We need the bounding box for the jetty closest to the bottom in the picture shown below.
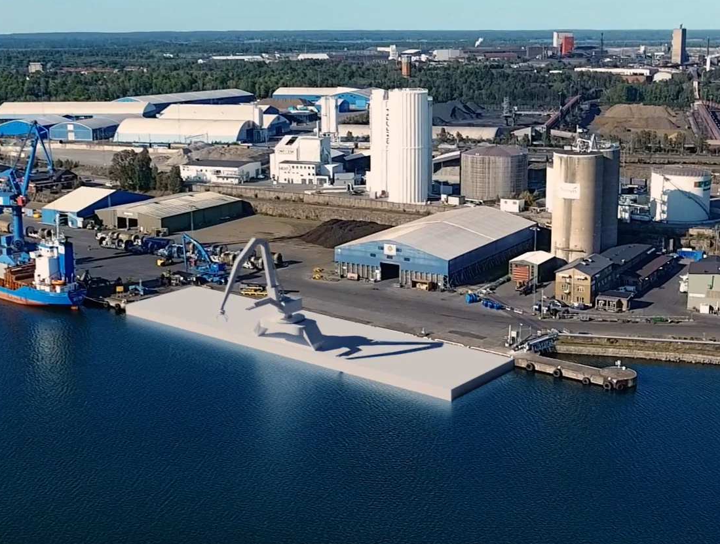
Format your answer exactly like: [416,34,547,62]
[512,351,638,389]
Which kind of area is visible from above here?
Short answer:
port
